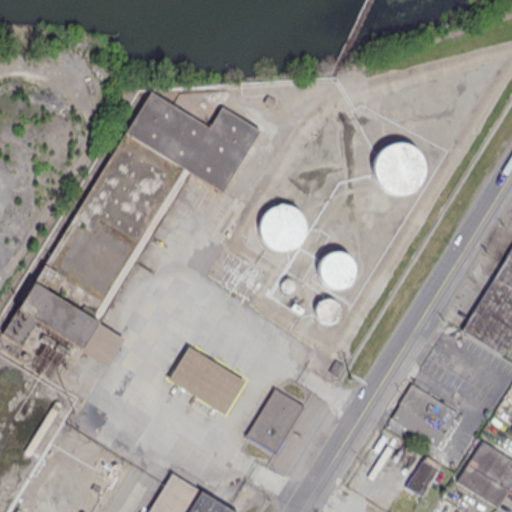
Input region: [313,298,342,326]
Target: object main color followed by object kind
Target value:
white storage tank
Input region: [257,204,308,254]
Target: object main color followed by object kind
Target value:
white storage tank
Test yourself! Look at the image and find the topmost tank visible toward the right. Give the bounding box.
[372,142,428,196]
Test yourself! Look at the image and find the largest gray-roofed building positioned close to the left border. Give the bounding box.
[3,282,100,347]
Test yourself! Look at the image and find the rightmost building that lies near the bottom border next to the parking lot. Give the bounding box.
[456,440,512,506]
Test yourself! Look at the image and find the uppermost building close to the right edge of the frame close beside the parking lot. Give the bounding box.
[462,250,512,361]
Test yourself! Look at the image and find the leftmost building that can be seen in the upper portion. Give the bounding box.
[131,92,258,191]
